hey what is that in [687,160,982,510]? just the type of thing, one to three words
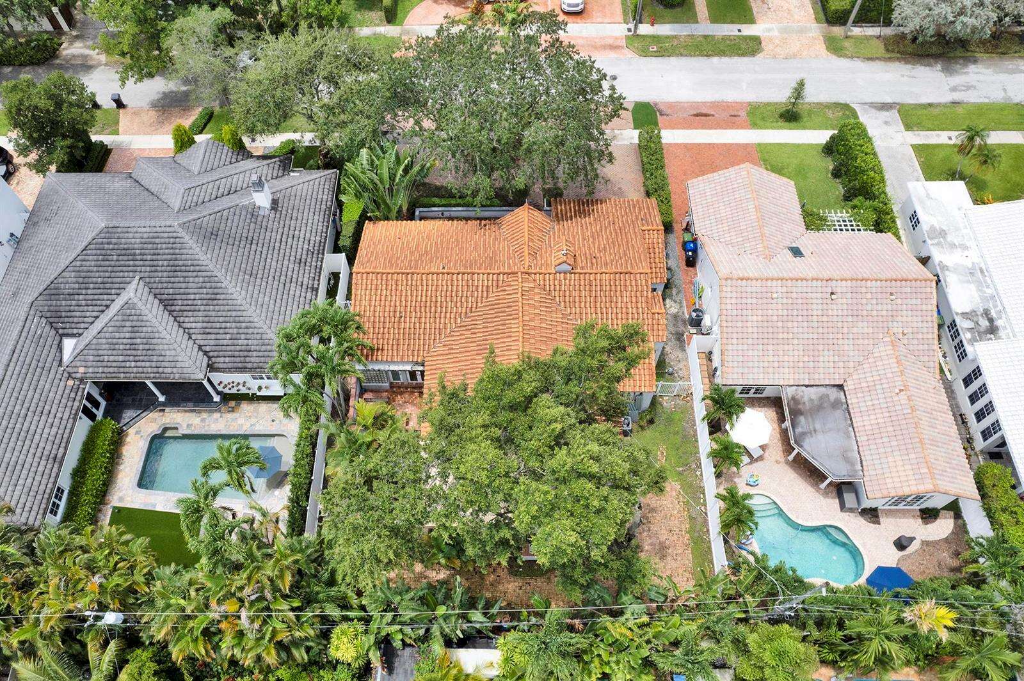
house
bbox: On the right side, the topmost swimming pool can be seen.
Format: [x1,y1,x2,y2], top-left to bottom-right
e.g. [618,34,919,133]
[741,488,869,587]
